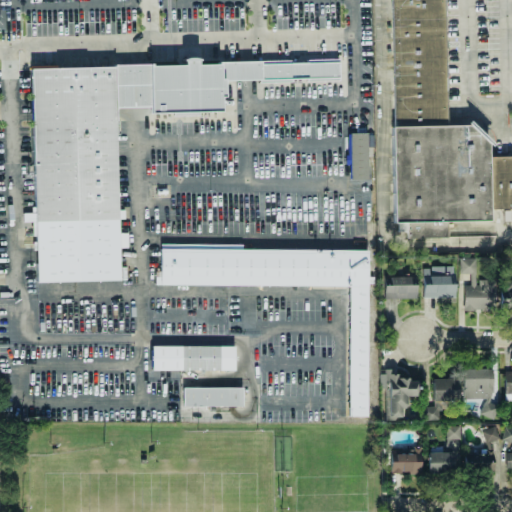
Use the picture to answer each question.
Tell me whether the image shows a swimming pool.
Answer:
Yes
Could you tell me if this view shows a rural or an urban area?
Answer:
urban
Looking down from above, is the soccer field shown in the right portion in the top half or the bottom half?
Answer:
bottom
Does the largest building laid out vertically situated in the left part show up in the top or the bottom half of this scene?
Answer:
top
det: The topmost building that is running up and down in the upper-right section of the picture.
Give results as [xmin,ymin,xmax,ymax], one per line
[394,0,450,126]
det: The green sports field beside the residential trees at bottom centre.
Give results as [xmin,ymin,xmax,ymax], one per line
[275,421,371,512]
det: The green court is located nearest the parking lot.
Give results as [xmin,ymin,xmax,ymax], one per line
[276,436,293,471]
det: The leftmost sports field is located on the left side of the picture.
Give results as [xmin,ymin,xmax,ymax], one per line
[0,419,274,512]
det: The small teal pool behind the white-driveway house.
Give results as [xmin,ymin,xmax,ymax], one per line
[465,400,482,416]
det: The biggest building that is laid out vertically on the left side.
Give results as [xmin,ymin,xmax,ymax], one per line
[32,65,123,283]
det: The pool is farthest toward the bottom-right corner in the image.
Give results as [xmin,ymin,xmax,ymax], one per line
[462,425,483,448]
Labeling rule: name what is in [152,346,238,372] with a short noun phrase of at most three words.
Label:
shed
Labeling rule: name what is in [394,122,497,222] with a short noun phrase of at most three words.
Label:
building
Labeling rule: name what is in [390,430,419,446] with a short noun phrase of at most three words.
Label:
swimming pool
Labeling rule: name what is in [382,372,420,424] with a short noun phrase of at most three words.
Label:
house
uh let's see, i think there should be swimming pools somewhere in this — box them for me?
[465,400,482,416]
[390,430,419,446]
[462,425,483,448]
